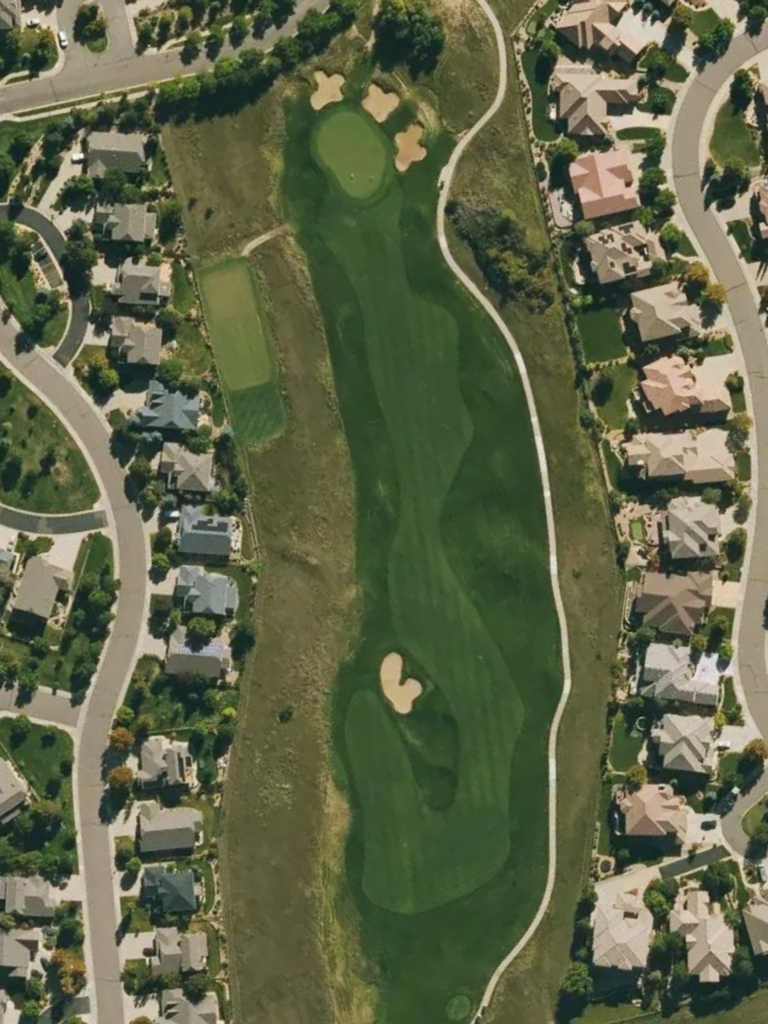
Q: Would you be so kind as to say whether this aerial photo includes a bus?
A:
No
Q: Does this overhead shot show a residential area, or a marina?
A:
residential area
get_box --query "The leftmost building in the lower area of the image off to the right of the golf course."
[592,875,655,970]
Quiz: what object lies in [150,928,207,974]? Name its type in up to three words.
house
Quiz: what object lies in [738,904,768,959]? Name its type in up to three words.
house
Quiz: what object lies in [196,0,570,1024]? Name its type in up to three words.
golf course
